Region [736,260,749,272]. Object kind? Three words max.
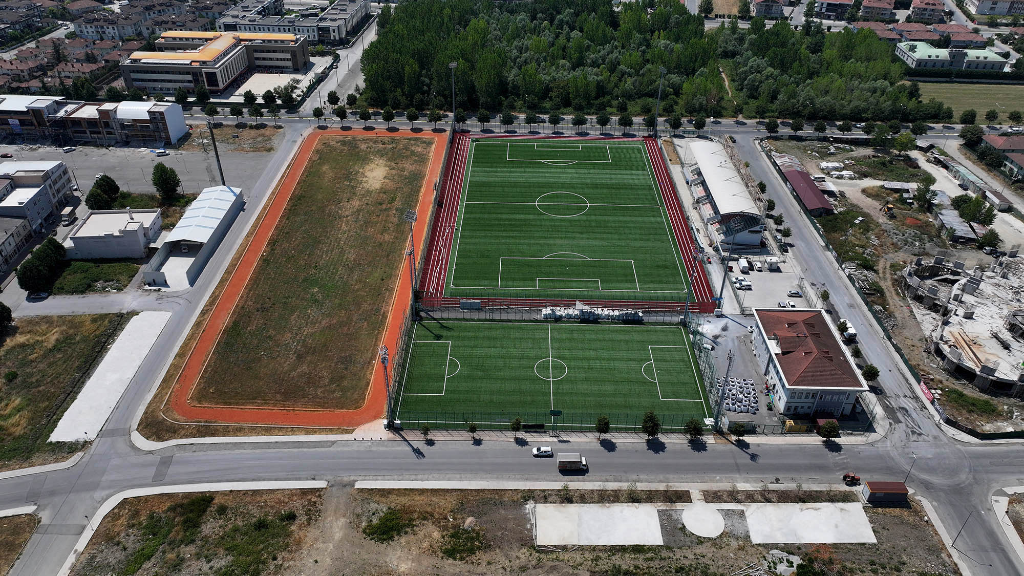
vehicle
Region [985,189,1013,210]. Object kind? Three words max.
shed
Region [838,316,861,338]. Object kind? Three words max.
truck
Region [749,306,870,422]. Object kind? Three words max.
building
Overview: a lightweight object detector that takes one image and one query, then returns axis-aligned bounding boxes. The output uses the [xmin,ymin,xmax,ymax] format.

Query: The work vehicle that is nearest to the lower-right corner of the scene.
[843,472,862,485]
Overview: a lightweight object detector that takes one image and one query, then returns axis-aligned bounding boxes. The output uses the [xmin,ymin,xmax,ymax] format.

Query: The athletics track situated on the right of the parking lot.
[416,133,718,316]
